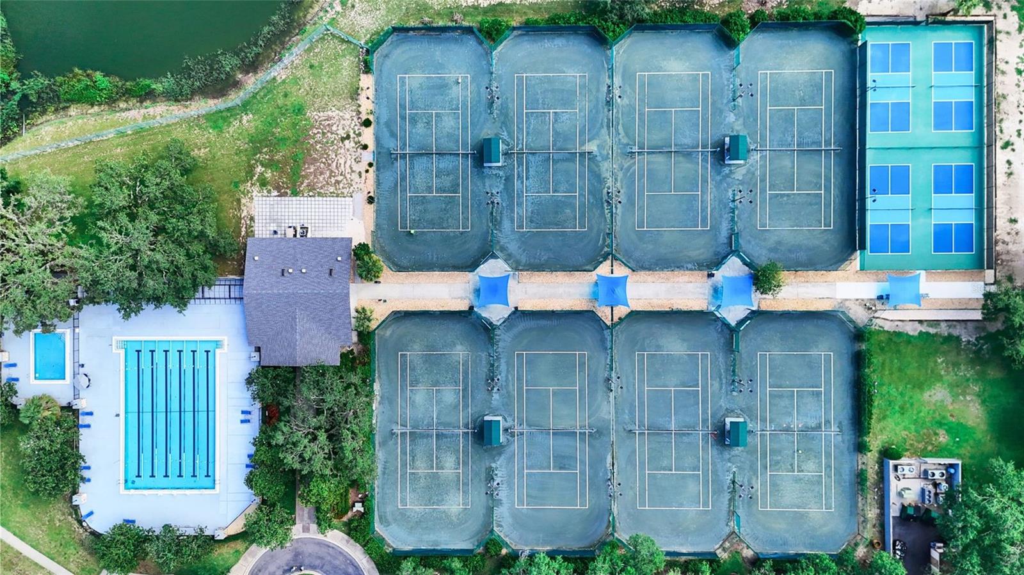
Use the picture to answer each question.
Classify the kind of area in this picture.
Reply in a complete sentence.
The picture captures a sports ground.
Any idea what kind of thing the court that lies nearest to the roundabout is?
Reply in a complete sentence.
It turns out the court that lies nearest to the roundabout is a tennis court.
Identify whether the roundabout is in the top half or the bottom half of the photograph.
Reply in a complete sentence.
It is in the bottom half that the roundabout appears.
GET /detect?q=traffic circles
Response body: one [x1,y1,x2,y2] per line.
[233,522,378,575]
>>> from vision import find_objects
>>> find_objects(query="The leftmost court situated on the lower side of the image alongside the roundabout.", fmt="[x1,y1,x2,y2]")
[375,311,493,548]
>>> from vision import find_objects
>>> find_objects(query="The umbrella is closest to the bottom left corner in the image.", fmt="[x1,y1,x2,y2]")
[73,373,90,388]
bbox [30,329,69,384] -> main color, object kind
blue swimming pool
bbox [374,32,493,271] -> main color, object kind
blue tennis court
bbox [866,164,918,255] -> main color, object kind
blue sports court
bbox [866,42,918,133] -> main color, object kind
blue sports court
